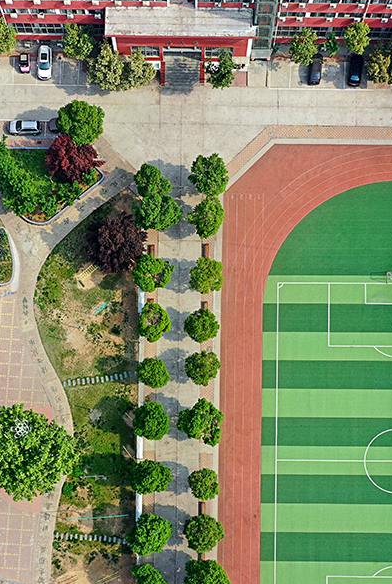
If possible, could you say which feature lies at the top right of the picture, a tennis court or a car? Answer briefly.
car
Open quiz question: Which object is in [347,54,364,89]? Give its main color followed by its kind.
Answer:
black car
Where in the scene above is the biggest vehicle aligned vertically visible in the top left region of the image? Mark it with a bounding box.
[36,46,52,82]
